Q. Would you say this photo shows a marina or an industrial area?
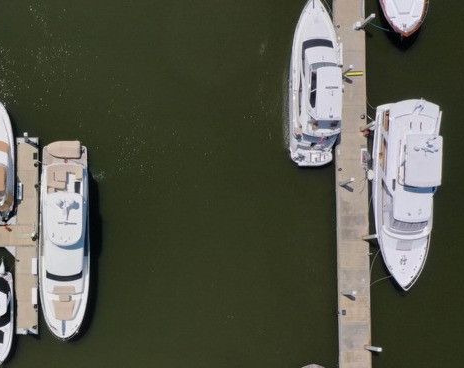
marina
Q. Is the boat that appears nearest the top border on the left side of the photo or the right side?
right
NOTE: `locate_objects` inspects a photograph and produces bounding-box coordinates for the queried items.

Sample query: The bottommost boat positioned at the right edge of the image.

[364,99,442,291]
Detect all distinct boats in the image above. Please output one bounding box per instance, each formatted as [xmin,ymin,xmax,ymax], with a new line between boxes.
[36,146,90,339]
[364,99,442,291]
[368,0,433,40]
[283,0,343,167]
[0,257,16,363]
[47,142,85,158]
[0,103,17,225]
